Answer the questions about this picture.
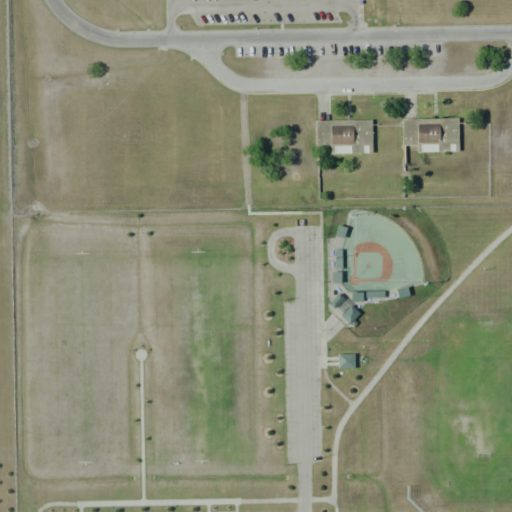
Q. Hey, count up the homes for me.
2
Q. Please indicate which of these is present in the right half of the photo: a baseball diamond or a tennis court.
baseball diamond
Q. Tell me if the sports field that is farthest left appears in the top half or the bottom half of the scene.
bottom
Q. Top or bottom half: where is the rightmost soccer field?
bottom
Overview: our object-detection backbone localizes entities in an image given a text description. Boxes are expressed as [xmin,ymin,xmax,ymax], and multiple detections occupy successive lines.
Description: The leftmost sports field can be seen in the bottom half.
[36,240,128,469]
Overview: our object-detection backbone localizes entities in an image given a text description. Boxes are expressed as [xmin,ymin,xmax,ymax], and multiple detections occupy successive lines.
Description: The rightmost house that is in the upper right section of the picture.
[404,118,461,152]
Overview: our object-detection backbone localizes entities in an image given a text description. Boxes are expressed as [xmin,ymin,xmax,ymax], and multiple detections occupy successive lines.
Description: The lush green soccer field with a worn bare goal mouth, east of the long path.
[448,322,512,455]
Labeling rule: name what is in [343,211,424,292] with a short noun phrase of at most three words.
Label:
baseball field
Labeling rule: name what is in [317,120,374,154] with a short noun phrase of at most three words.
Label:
house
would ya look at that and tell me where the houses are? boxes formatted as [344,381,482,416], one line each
[317,120,374,154]
[404,118,461,152]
